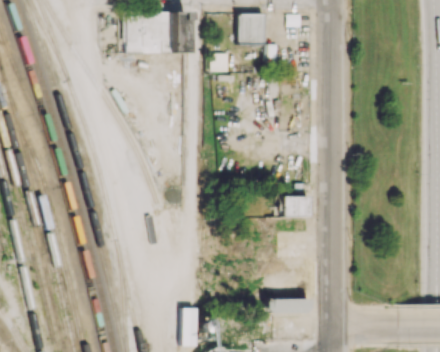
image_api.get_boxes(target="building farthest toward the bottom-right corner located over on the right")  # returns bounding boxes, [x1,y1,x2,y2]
[262,299,316,312]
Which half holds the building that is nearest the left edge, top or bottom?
top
